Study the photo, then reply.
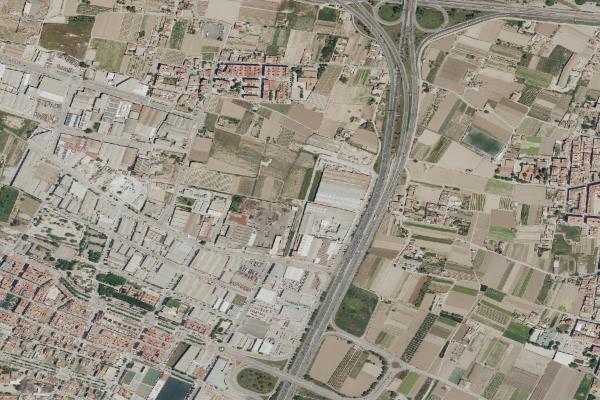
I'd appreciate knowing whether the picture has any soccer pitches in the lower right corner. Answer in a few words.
No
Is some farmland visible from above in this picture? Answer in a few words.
Yes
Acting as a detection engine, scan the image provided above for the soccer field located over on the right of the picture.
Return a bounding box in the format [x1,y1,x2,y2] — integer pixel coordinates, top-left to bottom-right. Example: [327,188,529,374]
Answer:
[463,122,507,158]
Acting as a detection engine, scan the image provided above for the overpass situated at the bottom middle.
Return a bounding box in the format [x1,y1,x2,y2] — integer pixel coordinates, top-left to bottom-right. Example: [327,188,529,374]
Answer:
[244,354,346,400]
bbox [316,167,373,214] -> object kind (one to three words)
building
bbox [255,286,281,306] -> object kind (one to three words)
building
